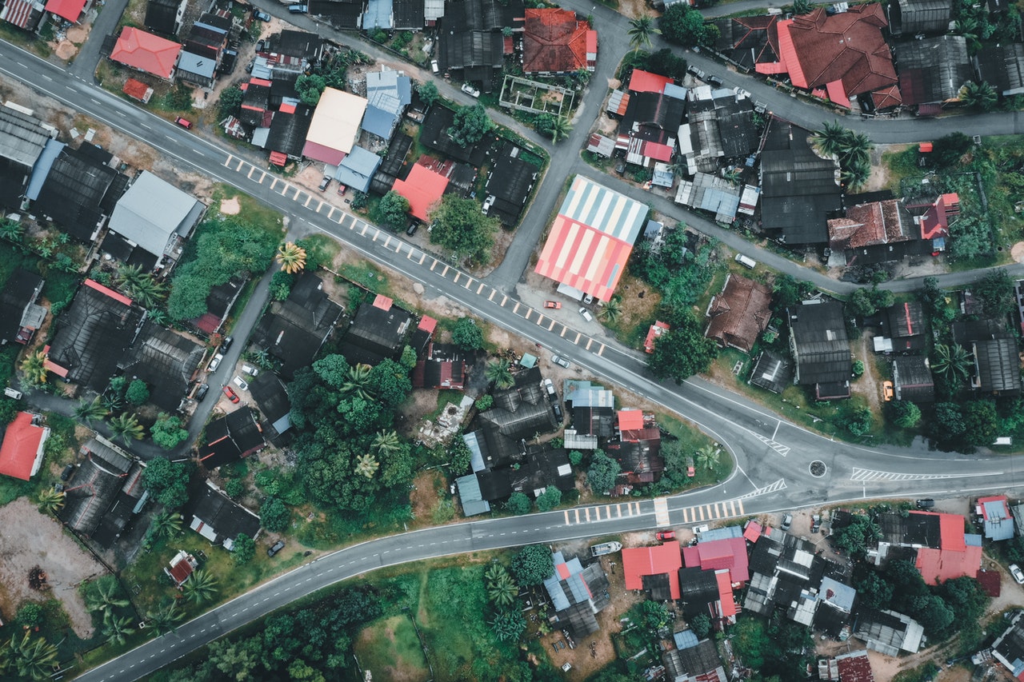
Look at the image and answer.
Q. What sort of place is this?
residential area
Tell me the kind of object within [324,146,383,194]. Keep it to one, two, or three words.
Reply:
house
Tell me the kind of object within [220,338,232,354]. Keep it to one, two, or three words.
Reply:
vehicle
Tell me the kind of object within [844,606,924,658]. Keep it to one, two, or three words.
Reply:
barn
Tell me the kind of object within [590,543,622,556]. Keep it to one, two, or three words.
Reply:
boat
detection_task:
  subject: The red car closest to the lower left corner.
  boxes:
[223,387,239,403]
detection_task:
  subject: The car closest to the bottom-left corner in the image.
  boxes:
[60,463,75,482]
